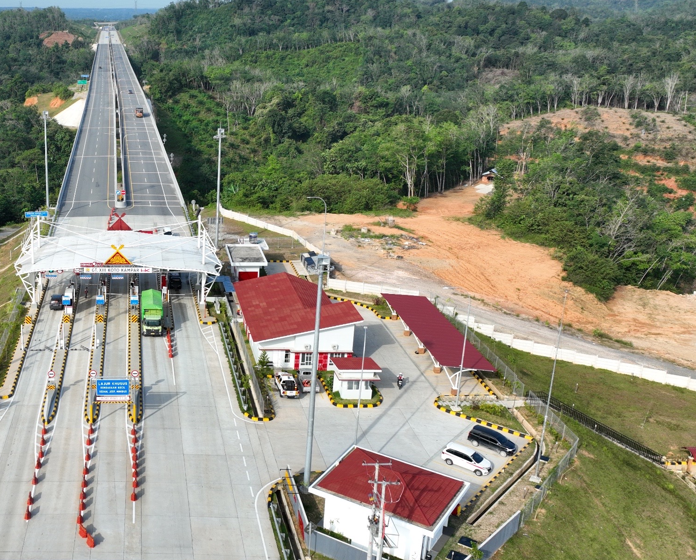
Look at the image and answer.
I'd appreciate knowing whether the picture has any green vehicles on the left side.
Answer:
Yes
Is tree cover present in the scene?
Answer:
Yes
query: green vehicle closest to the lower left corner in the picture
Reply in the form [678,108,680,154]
[140,291,165,333]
